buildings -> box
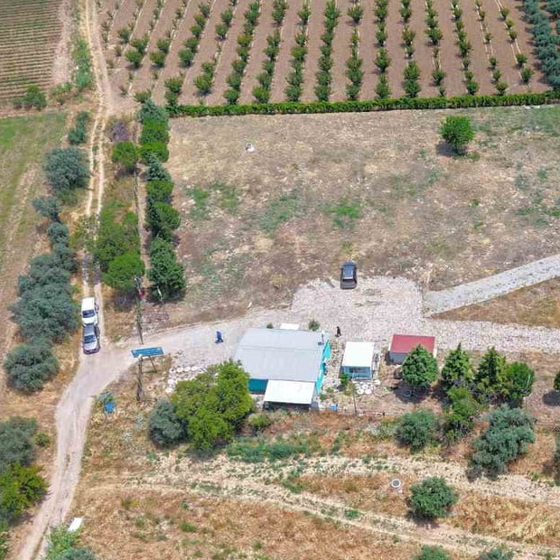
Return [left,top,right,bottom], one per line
[229,322,334,417]
[390,331,437,365]
[341,341,378,380]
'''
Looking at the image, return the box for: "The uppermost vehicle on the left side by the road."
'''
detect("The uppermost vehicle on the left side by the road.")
[78,291,98,325]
